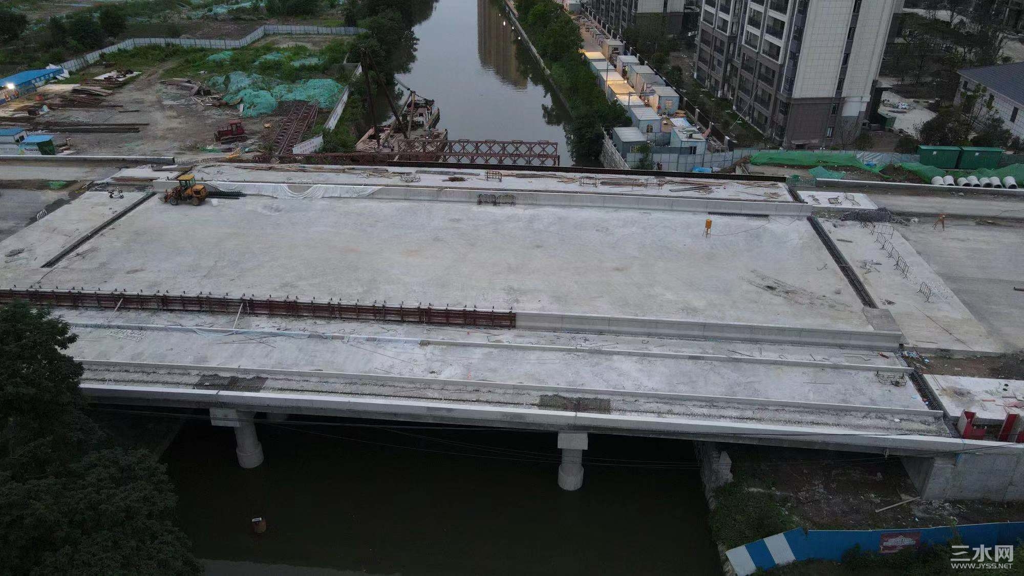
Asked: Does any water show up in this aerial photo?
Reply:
Yes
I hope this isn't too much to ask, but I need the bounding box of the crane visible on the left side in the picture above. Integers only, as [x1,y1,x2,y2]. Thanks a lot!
[359,47,431,149]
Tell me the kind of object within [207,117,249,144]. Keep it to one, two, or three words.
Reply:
work vehicle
